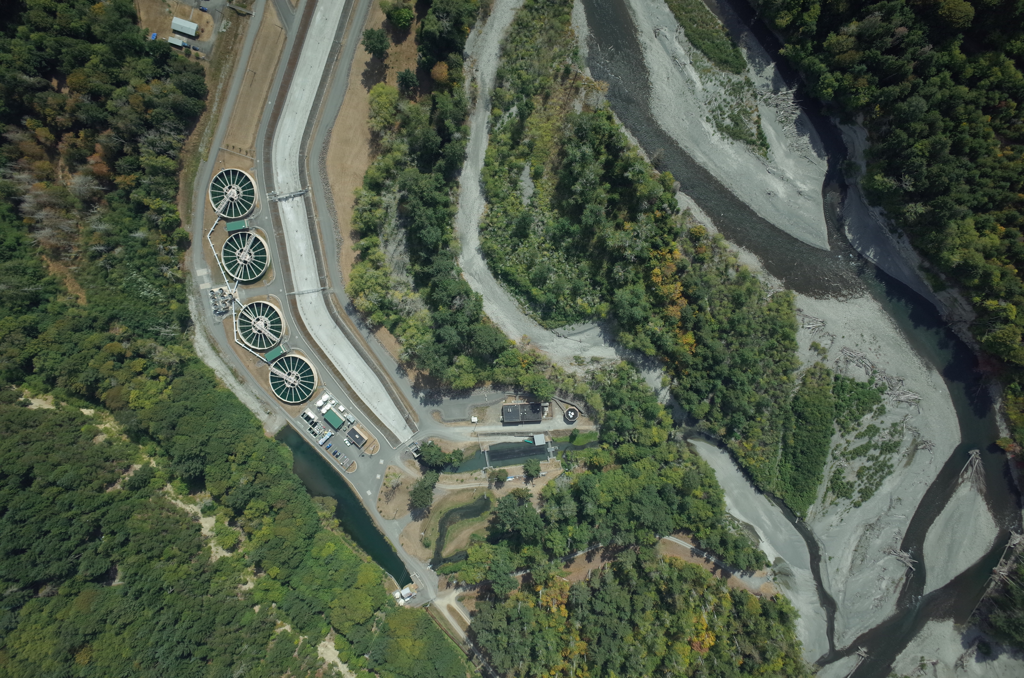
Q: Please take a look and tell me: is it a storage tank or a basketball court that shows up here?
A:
storage tank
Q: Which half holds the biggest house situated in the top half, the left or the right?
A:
left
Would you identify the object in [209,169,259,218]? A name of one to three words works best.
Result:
storage tank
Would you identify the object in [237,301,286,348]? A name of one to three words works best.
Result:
storage tank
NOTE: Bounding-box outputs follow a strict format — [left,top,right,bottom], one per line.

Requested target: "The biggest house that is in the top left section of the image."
[171,17,199,37]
